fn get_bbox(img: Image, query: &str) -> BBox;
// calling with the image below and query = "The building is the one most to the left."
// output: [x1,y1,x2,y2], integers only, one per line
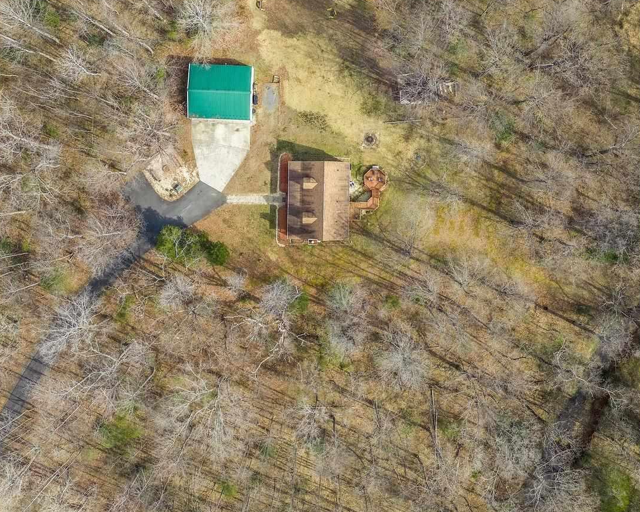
[186,62,255,121]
